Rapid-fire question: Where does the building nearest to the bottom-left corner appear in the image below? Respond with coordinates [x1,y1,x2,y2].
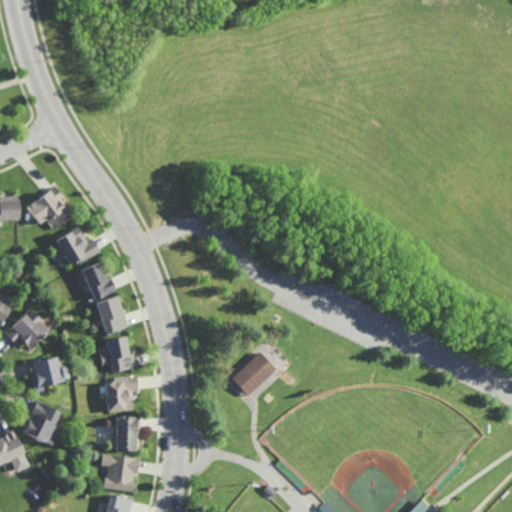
[0,428,33,474]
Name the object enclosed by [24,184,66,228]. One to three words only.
house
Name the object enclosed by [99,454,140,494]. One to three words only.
house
